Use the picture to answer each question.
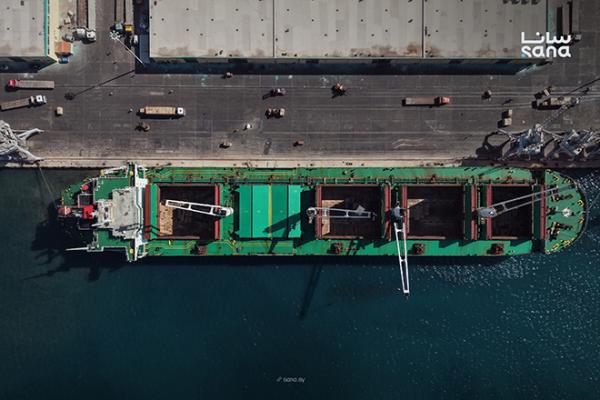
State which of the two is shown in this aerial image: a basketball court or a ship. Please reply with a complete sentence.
There is a ship in the scene.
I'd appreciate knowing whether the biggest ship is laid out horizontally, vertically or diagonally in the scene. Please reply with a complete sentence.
I'd say the biggest ship is aligned horizontally in the picture.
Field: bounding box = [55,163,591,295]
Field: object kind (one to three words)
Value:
ship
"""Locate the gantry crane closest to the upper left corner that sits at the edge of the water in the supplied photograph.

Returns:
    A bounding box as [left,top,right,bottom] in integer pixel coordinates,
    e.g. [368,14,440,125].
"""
[0,130,46,158]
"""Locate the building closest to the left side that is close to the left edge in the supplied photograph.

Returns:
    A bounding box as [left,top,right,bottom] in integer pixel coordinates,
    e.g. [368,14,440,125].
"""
[0,0,57,62]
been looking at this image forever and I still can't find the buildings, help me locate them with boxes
[149,0,552,64]
[0,0,57,62]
